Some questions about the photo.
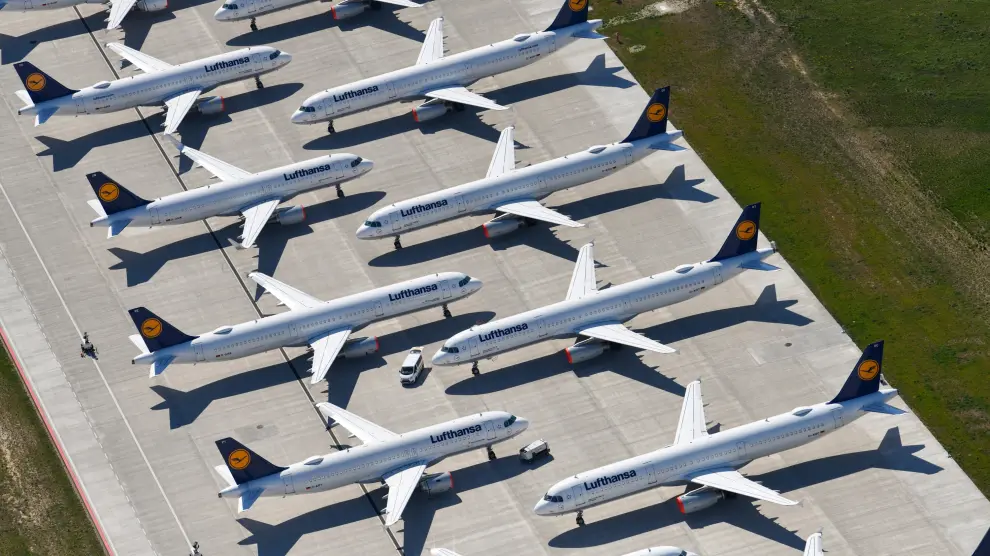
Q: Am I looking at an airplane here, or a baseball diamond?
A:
airplane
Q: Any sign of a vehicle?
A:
Yes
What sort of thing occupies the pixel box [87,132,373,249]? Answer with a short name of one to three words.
airplane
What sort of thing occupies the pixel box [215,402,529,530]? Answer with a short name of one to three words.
airplane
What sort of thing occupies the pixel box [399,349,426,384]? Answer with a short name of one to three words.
vehicle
